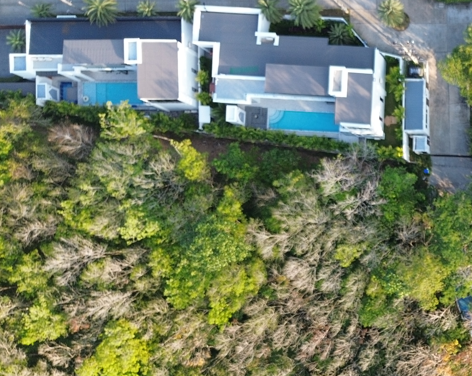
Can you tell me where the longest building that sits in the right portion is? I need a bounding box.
[194,6,387,142]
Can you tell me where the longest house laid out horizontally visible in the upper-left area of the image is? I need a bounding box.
[9,15,198,113]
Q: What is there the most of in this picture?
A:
trees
